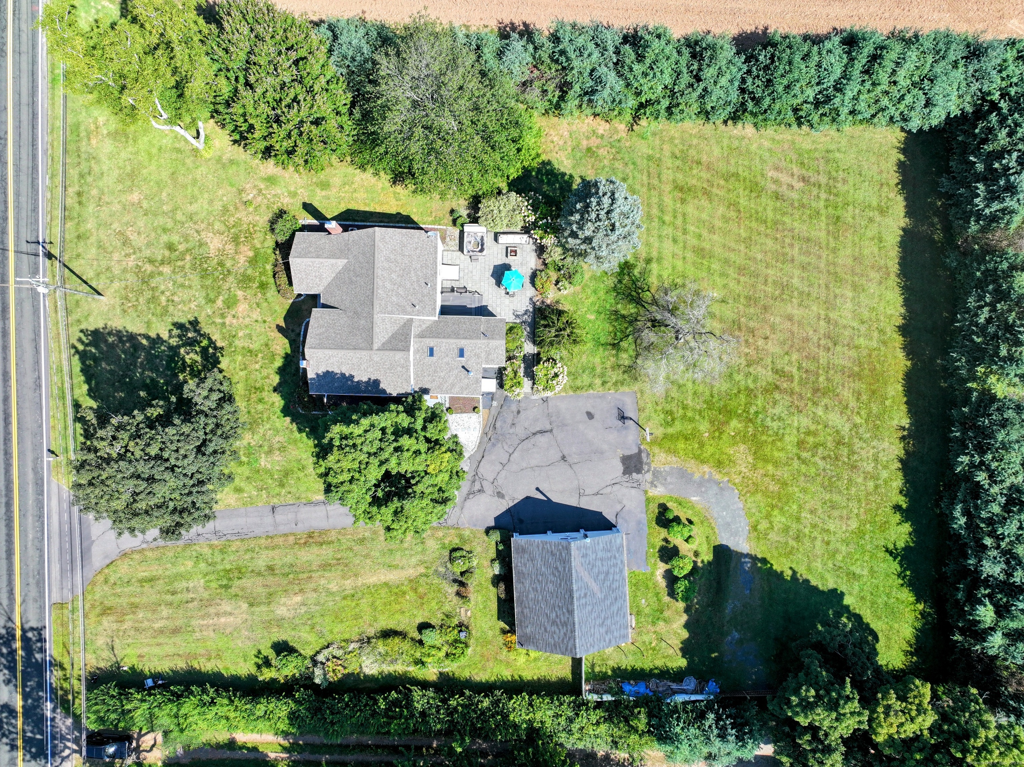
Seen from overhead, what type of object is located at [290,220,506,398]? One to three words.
house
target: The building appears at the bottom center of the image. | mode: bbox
[510,525,632,657]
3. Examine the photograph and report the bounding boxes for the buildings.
[510,525,632,657]
[290,220,506,398]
